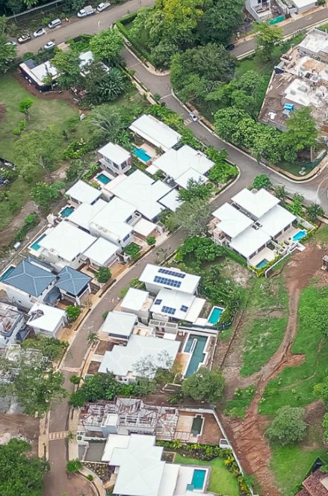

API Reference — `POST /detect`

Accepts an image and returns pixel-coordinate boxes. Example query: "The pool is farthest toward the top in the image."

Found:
[132,146,153,163]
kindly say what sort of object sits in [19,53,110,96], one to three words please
house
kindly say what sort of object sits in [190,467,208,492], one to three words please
swimming pool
